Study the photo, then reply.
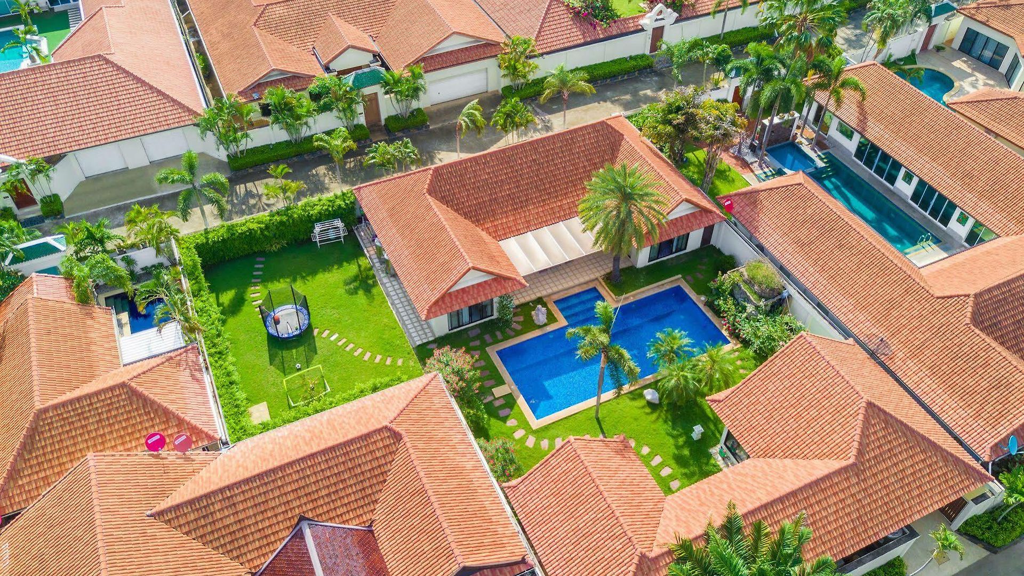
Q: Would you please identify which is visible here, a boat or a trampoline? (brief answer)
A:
trampoline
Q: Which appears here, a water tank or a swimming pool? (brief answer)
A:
swimming pool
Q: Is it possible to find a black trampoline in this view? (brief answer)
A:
No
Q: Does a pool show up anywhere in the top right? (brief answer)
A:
Yes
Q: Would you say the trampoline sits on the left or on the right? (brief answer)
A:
left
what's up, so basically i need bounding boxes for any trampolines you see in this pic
[255,284,312,347]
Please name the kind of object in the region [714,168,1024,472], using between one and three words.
house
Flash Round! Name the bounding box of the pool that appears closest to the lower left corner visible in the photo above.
[105,274,184,332]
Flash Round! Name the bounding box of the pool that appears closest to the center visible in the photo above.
[485,272,741,428]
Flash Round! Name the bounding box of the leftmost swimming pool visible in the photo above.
[0,22,51,72]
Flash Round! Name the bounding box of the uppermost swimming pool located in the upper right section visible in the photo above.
[883,63,958,116]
